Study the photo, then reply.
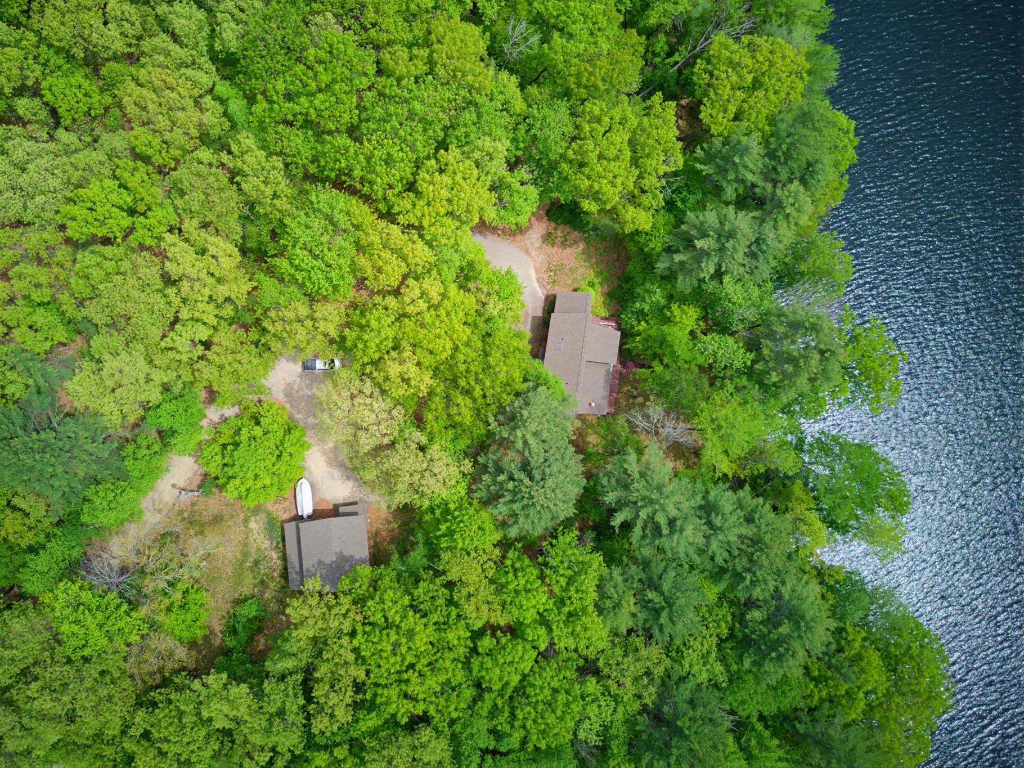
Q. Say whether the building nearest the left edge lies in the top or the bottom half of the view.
bottom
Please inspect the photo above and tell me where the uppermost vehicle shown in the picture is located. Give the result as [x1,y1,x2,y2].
[302,357,343,373]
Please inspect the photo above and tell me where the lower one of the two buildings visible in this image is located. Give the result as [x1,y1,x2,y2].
[284,502,375,592]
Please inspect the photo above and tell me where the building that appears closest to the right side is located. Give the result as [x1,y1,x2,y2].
[541,292,622,415]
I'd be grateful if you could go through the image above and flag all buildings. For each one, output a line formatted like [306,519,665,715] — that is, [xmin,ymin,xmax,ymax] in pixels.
[541,292,622,415]
[284,502,375,592]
